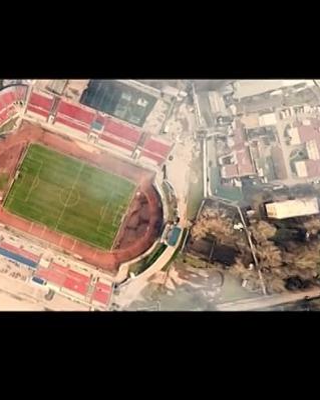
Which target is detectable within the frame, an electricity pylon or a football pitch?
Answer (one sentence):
Looking from above, you can make out a football pitch.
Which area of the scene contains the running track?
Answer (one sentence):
The running track is located in the left region of the scene.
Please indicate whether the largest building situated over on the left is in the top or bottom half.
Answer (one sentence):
The top half of the photo is where the largest building situated over on the left is.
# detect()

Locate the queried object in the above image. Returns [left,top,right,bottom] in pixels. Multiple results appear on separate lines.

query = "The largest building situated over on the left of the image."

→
[80,80,158,128]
